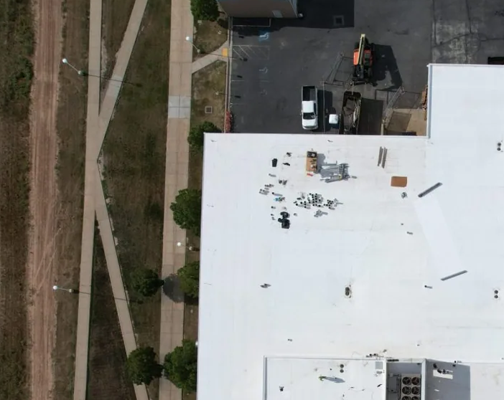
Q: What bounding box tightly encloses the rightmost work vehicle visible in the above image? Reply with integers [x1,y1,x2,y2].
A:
[349,26,374,95]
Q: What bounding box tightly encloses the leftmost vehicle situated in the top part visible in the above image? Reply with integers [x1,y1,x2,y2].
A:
[299,83,320,133]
